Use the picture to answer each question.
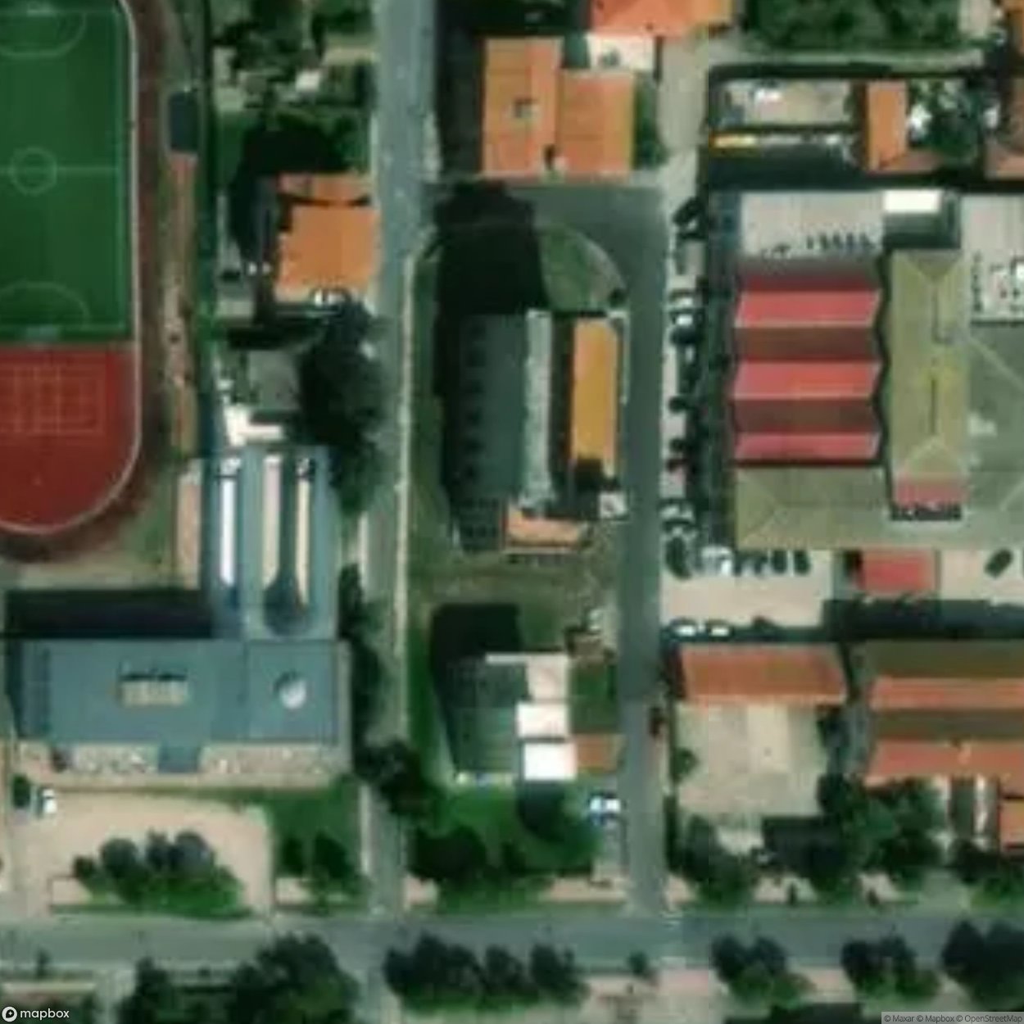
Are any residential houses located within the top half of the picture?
Yes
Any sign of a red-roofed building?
Yes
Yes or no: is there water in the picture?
No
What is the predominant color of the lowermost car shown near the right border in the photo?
black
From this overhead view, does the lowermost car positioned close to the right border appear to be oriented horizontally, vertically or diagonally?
diagonally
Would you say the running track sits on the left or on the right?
left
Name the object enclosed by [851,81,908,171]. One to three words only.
house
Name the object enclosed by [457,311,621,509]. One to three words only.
building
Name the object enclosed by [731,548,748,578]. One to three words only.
car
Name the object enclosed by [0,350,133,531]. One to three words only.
sports court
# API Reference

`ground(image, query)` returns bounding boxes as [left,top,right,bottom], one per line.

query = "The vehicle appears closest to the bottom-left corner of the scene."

[39,786,57,816]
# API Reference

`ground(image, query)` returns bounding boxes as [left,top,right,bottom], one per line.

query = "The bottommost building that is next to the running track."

[22,641,336,772]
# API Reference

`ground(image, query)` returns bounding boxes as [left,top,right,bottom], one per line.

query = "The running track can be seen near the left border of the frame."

[0,0,172,568]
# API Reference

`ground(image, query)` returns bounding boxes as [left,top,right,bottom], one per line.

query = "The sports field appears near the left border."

[0,0,133,343]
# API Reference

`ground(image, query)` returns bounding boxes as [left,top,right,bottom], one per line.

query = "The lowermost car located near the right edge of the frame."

[984,549,1011,578]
